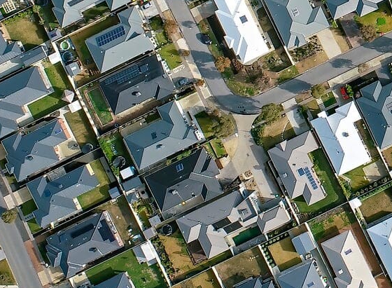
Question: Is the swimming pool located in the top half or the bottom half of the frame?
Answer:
bottom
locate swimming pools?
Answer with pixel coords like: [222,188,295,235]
[231,226,261,249]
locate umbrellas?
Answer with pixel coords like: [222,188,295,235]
[68,139,79,149]
[63,89,76,102]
